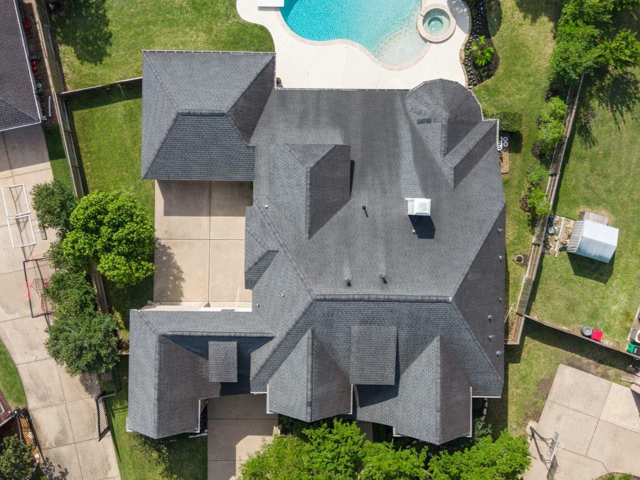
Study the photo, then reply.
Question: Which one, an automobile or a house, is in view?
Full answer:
Looking from above, you can make out a house.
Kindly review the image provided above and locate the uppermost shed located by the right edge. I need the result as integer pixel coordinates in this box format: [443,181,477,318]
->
[567,224,626,263]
